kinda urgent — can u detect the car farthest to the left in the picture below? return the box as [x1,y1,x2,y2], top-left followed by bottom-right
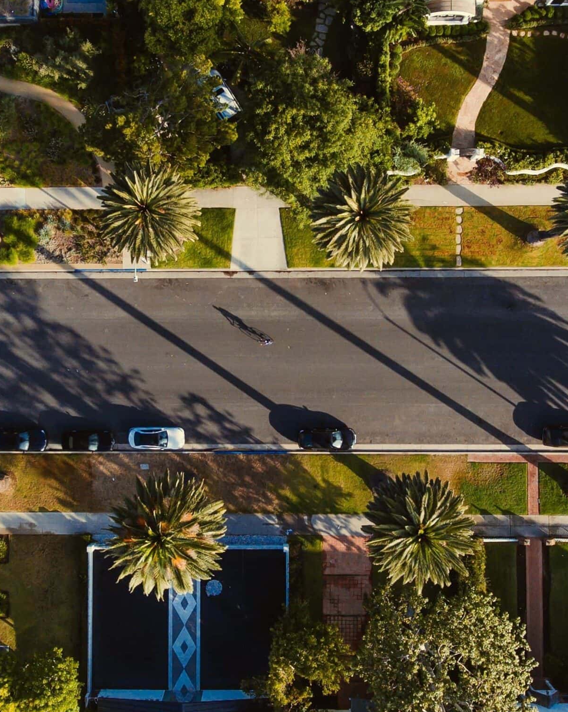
[0,426,47,455]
